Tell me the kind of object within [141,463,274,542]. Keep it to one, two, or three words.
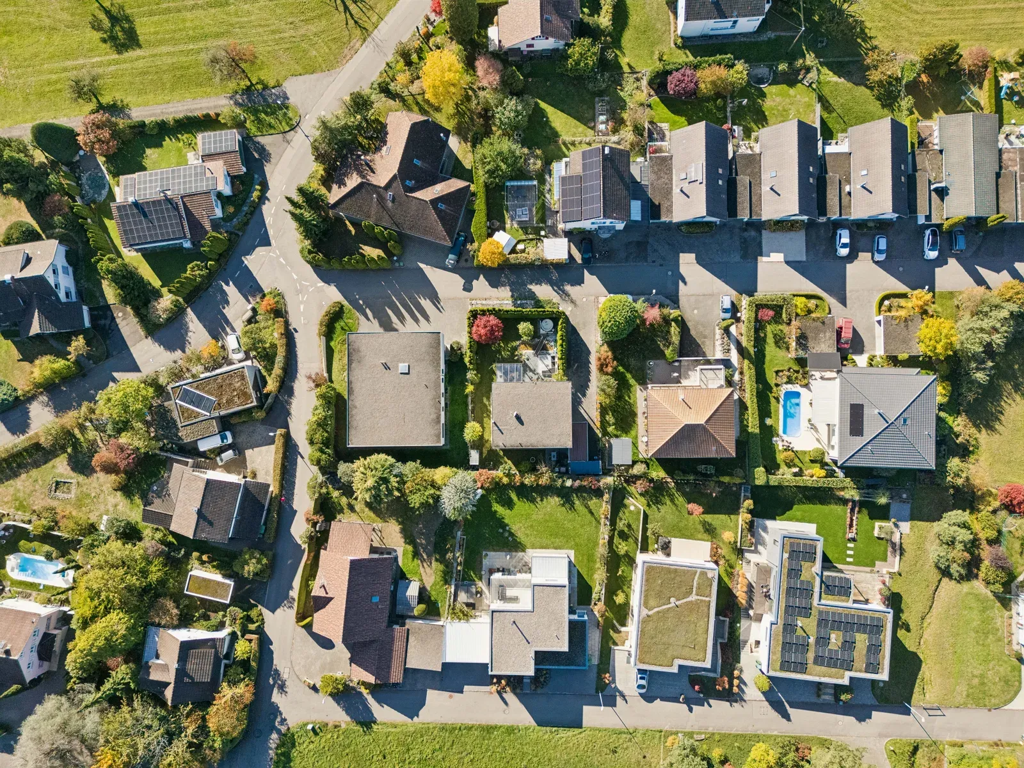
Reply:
house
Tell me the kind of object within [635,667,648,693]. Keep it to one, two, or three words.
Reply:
vehicle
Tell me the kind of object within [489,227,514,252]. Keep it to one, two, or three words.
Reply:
shed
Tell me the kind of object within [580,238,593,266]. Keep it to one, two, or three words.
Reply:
vehicle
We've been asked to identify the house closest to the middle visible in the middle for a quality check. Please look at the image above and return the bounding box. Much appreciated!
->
[492,382,572,448]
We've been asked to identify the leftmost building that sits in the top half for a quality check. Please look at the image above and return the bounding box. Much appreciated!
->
[0,240,90,338]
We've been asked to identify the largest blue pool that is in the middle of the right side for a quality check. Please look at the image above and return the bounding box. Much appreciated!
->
[782,390,801,437]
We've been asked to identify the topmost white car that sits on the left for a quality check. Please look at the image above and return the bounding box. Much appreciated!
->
[227,333,244,360]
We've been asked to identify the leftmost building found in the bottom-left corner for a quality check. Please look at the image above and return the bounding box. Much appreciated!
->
[0,594,75,685]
